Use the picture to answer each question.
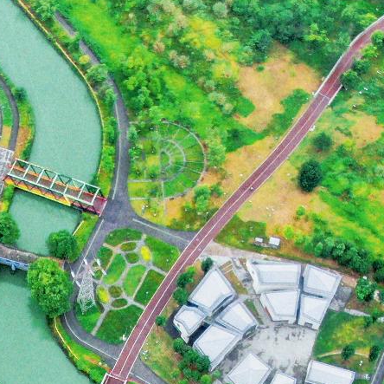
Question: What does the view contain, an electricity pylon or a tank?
electricity pylon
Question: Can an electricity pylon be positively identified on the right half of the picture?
No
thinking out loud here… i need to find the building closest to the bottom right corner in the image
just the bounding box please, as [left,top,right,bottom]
[305,358,356,384]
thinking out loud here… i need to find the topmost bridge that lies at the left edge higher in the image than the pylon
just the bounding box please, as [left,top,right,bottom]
[0,159,114,217]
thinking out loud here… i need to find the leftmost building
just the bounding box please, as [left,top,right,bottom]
[173,304,208,343]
